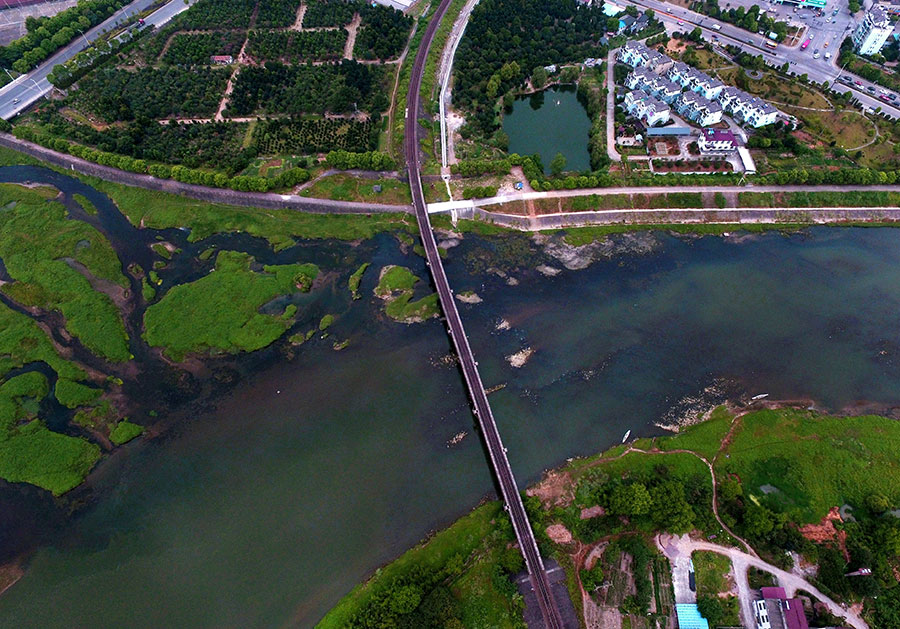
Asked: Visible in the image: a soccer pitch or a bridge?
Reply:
bridge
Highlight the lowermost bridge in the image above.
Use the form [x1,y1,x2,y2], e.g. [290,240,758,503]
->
[406,162,548,581]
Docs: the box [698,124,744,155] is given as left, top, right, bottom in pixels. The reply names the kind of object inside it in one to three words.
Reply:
house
